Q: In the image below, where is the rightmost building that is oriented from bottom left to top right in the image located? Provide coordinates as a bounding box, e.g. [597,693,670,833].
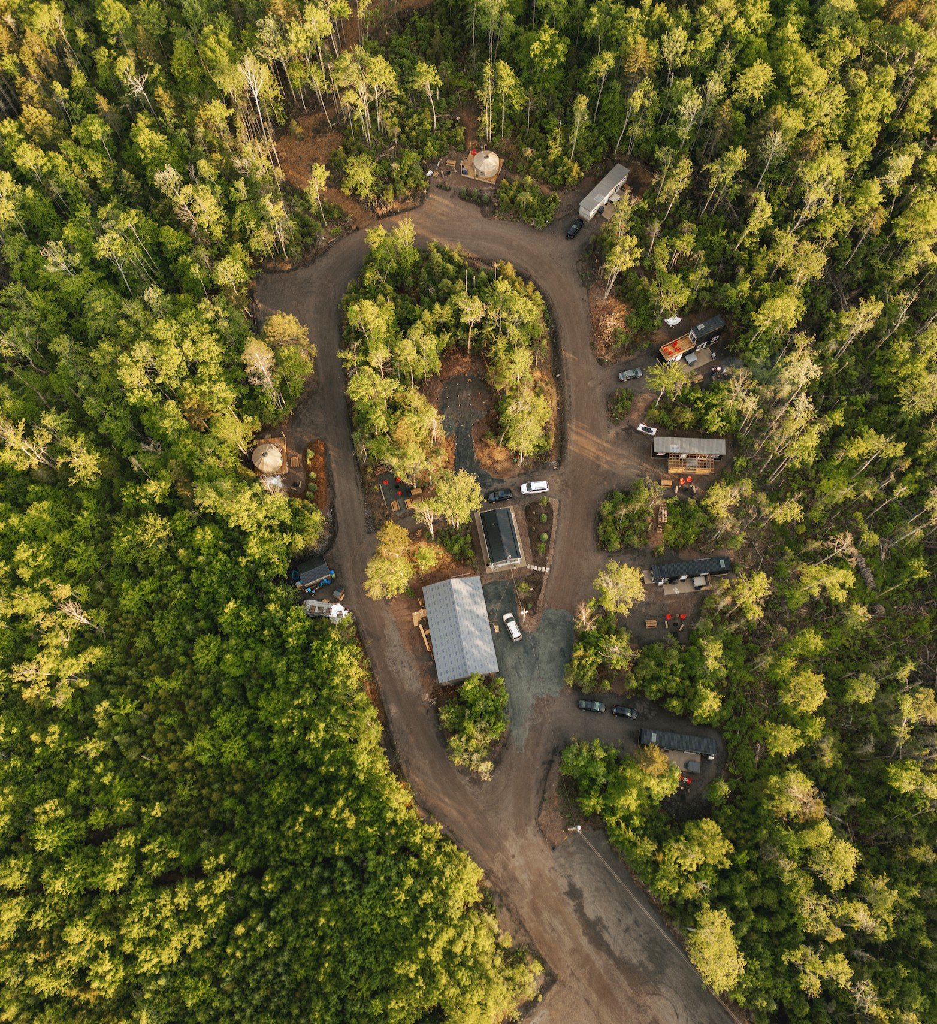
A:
[657,314,726,365]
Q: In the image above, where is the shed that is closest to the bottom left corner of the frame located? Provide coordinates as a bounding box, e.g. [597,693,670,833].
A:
[297,556,331,587]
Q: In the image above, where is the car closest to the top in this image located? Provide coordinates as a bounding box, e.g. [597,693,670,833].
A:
[565,219,584,239]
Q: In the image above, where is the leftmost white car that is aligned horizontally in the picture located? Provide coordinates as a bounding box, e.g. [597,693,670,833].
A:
[520,481,549,495]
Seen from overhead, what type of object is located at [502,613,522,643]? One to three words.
car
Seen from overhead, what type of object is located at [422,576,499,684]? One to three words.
building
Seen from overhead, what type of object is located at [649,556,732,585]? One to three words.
house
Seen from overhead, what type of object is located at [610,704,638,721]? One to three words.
car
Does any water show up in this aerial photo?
No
